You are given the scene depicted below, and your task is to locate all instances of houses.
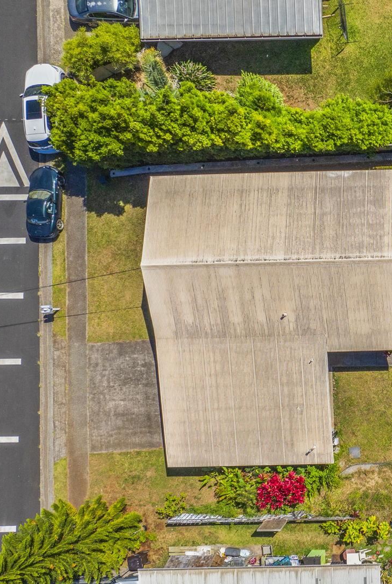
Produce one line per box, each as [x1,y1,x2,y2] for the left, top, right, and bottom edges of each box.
[140,0,324,42]
[137,563,382,584]
[140,169,392,466]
